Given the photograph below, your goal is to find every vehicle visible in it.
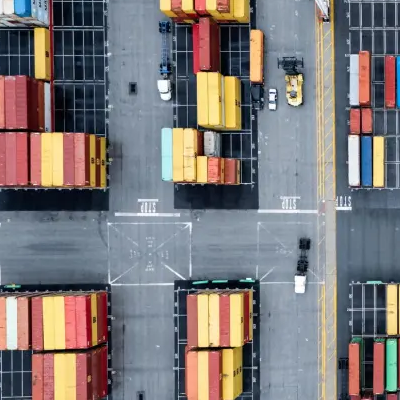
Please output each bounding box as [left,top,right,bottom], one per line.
[291,239,307,294]
[157,20,173,100]
[337,357,348,400]
[276,58,303,105]
[248,75,262,109]
[268,88,275,110]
